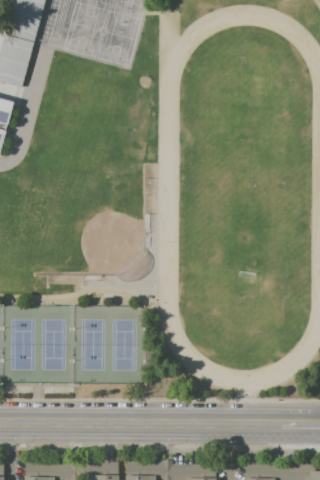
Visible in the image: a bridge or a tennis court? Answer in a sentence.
Of the two, only a tennis court appears.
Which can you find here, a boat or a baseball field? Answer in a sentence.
Visible in the photo is a baseball field.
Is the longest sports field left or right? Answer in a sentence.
The longest sports field sits on the right side.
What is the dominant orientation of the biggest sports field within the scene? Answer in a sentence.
The biggest sports field runs up and down in the image.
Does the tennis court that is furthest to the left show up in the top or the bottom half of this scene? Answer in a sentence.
You can find the tennis court that is furthest to the left in the bottom half.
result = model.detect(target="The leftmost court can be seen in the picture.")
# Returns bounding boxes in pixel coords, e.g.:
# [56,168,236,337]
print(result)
[9,320,36,370]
